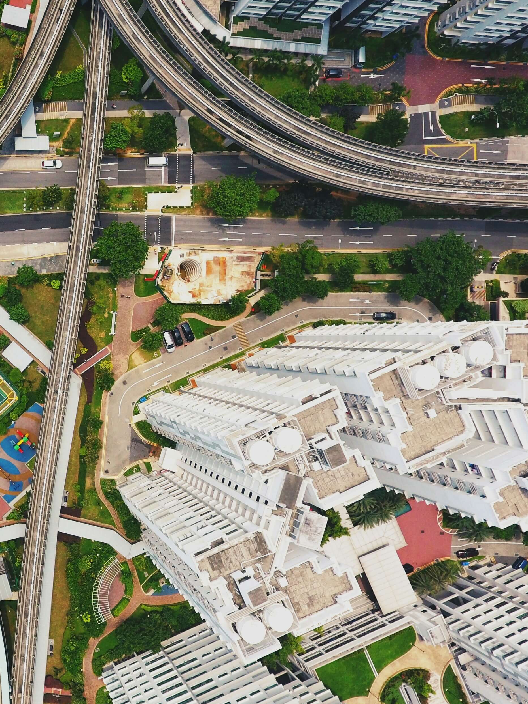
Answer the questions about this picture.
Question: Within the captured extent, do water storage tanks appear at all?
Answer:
Yes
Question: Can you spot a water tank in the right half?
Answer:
Yes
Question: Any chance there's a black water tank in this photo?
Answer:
No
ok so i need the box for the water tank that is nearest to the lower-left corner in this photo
[225,609,266,644]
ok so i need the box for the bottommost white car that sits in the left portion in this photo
[163,330,176,351]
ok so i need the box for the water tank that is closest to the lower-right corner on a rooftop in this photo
[252,592,293,632]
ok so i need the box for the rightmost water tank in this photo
[444,338,494,367]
